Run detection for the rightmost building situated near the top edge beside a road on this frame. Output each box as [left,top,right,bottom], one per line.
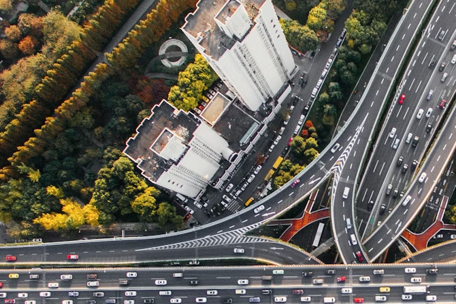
[180,0,295,111]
